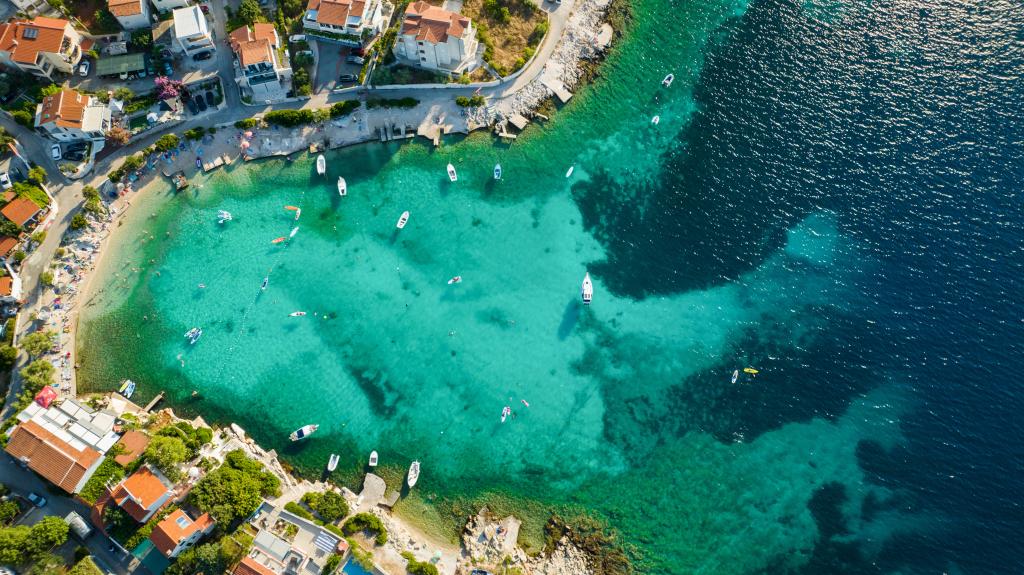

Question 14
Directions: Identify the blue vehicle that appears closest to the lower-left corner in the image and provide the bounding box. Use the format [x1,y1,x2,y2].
[25,491,48,508]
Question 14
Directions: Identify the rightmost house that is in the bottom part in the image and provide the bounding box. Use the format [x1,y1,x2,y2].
[229,522,349,575]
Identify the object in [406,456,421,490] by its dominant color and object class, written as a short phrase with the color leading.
white boat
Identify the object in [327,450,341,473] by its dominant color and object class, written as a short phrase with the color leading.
white boat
